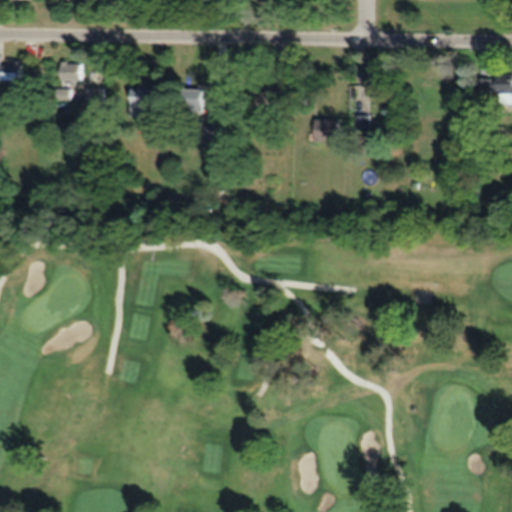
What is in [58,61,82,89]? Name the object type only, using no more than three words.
house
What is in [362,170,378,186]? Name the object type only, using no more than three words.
swimming pool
